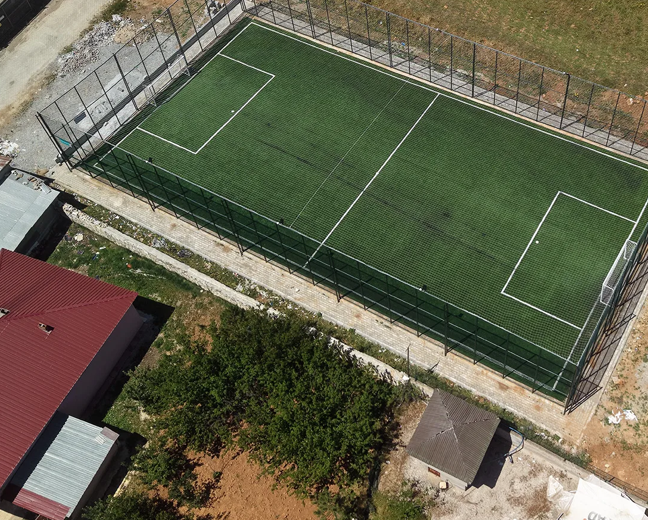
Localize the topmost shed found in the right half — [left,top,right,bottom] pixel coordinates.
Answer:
[406,390,500,493]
